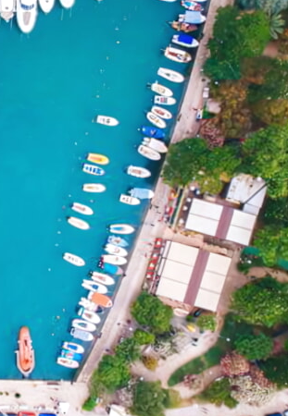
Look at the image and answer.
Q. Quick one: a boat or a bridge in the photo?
boat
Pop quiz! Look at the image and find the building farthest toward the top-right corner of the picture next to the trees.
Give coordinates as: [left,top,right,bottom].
[219,177,265,214]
